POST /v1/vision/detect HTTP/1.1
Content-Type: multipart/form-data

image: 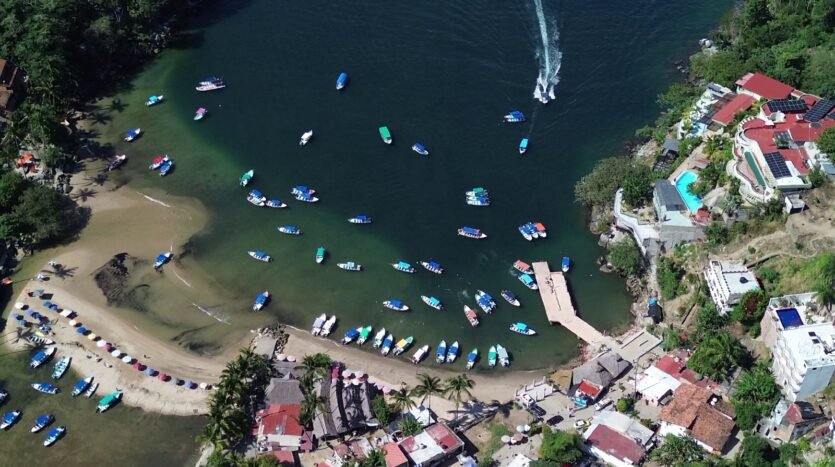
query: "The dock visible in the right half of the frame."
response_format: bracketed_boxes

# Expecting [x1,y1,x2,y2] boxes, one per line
[532,262,618,355]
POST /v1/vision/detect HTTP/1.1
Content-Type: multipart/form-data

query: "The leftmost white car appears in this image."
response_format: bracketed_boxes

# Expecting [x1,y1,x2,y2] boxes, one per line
[521,392,535,406]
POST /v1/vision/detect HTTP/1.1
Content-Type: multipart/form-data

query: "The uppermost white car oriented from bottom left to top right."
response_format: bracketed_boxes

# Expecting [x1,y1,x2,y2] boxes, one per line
[592,399,609,412]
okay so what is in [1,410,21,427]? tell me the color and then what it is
blue boat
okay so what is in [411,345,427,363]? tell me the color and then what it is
white boat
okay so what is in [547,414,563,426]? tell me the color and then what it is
black vehicle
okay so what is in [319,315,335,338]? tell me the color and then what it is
white boat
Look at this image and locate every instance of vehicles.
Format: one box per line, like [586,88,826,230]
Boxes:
[592,399,609,412]
[521,392,535,406]
[528,404,547,417]
[547,414,563,426]
[572,419,589,431]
